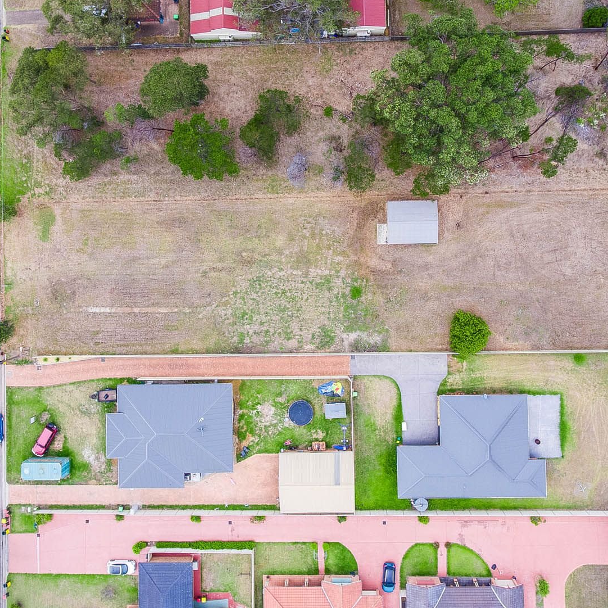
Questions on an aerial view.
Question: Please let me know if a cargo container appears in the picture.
Yes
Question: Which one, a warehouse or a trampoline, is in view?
trampoline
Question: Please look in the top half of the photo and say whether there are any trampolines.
No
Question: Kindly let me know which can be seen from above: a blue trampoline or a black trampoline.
blue trampoline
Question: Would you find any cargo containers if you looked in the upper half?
No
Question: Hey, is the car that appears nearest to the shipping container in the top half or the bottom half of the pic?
bottom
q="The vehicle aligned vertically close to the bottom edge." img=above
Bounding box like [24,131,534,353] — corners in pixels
[383,564,397,595]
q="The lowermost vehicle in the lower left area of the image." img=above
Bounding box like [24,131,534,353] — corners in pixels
[104,562,134,577]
